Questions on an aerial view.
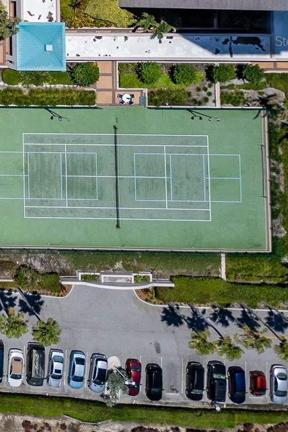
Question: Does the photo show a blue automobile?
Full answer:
Yes, there's a blue automobile here.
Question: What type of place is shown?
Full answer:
It's a sports ground.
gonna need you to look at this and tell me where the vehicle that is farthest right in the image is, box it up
[269,363,288,401]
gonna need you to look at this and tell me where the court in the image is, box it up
[0,107,266,250]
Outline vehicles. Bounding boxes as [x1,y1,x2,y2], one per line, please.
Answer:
[183,359,204,398]
[6,348,24,384]
[47,347,65,385]
[205,355,225,403]
[224,363,245,401]
[26,341,44,382]
[124,359,142,392]
[88,352,107,390]
[269,363,288,401]
[247,365,266,397]
[145,361,163,399]
[69,349,86,387]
